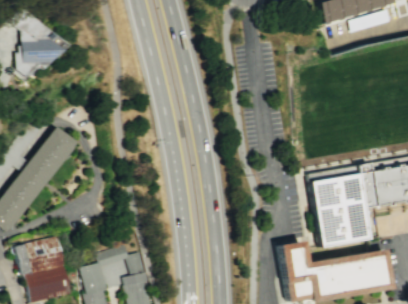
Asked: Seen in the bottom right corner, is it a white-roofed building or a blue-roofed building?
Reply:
white-roofed building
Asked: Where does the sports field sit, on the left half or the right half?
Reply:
right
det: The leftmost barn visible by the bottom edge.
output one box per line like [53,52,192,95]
[16,238,69,304]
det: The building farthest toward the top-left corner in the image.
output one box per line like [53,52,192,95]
[16,15,71,78]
